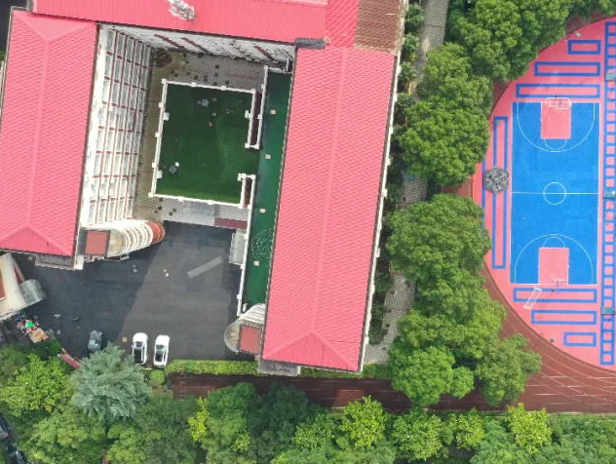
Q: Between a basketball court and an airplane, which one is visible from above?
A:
basketball court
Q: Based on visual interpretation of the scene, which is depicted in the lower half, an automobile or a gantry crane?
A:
automobile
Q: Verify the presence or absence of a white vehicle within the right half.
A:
No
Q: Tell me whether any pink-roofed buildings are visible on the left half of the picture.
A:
Yes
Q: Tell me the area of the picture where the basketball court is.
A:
right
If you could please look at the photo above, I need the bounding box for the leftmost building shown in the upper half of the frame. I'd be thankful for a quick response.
[0,4,164,272]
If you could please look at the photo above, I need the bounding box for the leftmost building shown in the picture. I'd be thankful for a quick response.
[0,254,57,320]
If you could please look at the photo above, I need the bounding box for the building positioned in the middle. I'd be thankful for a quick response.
[224,39,401,378]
